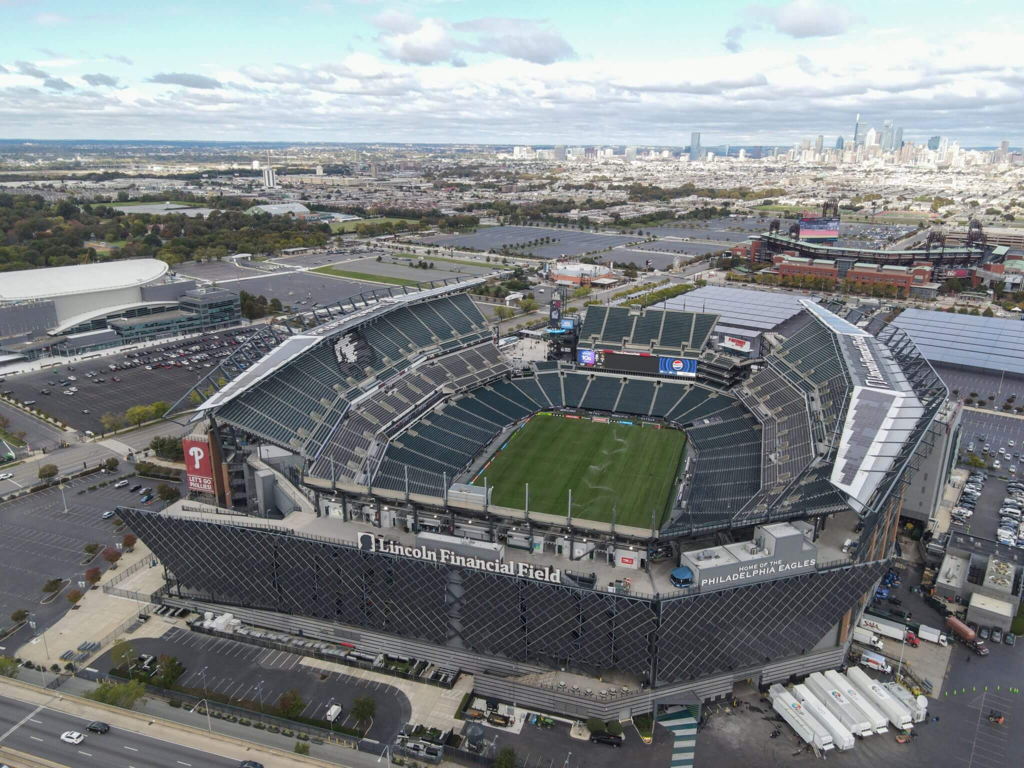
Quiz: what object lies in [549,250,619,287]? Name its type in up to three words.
building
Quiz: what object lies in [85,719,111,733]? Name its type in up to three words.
car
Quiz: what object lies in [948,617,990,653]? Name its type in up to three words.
truck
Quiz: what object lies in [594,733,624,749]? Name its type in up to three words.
vehicle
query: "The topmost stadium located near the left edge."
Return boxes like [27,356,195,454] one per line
[0,258,241,363]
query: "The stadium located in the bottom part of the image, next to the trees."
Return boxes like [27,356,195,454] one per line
[115,274,956,725]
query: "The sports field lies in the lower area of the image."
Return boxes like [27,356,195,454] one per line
[481,415,686,525]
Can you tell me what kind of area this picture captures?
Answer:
sports ground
